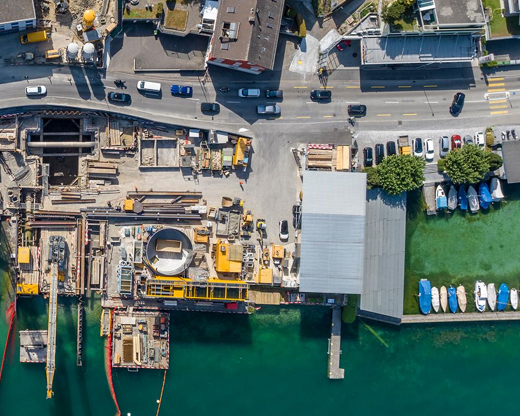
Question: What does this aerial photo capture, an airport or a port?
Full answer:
This looks like a port.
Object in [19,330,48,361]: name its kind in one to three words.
pier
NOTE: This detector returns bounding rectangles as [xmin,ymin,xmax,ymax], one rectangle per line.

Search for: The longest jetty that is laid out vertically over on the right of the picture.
[328,306,344,378]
